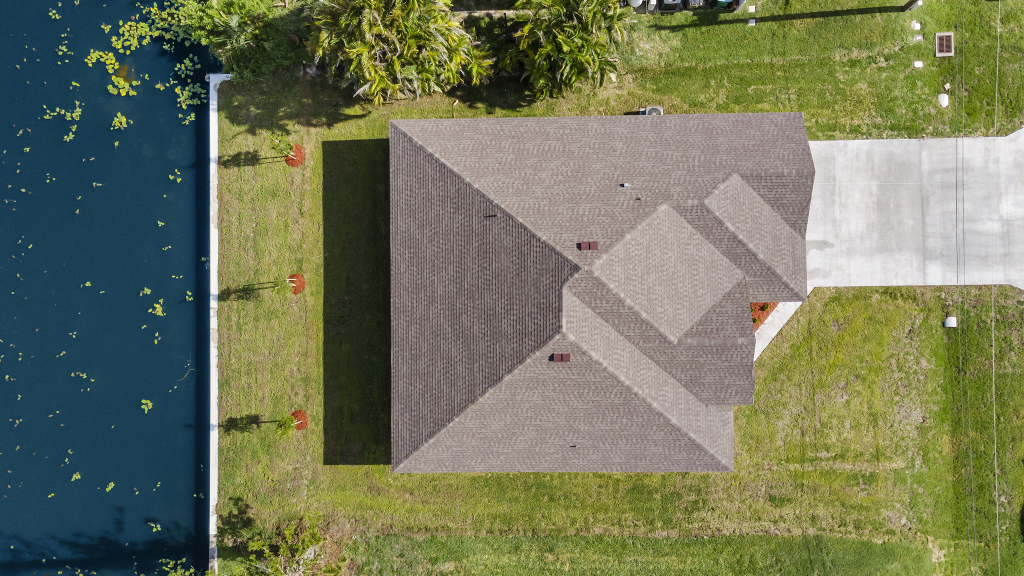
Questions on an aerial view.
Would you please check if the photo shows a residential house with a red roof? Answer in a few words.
No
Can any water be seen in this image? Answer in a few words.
Yes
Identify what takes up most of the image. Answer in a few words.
grass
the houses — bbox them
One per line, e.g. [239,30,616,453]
[388,112,815,475]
